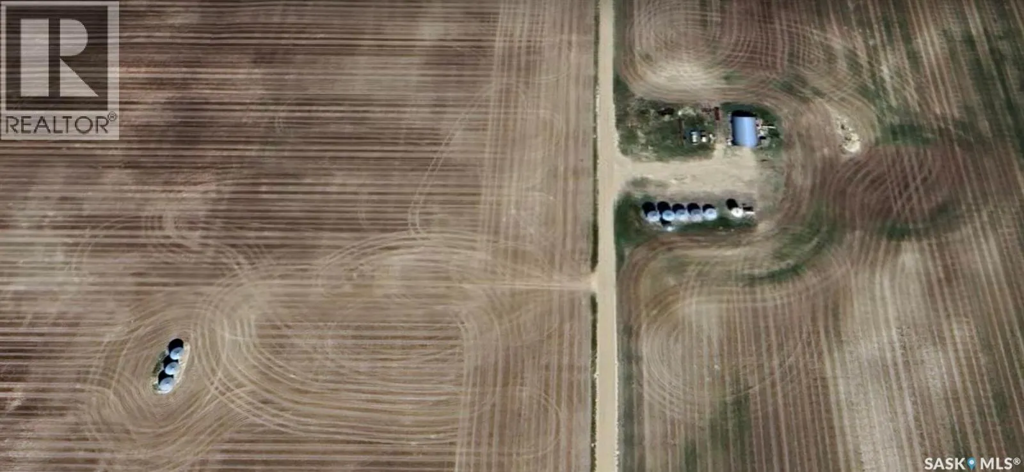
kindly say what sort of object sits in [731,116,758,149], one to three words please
shed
